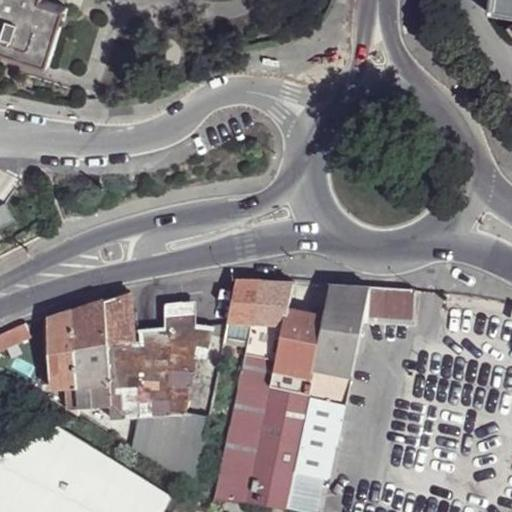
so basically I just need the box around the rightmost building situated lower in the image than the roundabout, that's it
[369,288,414,320]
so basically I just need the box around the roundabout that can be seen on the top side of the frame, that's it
[305,76,466,253]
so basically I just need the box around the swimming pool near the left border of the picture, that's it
[12,358,34,378]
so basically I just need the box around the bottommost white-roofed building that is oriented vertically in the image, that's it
[286,396,346,512]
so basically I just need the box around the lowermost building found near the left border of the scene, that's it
[0,425,170,512]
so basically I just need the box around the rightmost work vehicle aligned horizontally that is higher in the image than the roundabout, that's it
[306,50,338,62]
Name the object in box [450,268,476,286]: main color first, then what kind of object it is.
white car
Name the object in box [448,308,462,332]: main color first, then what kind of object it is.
white vehicle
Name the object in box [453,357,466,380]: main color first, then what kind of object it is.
gray vehicle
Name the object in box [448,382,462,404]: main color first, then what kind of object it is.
gray vehicle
